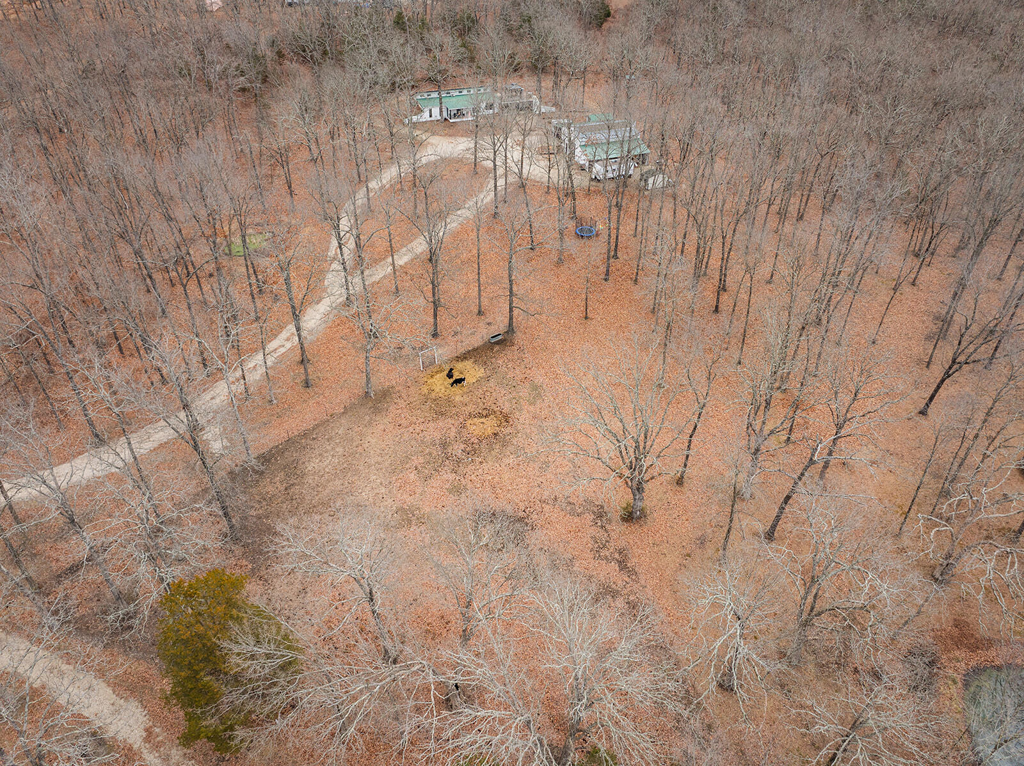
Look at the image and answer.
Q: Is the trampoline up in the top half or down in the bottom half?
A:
top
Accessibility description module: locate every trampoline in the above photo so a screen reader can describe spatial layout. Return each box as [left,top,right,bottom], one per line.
[575,217,596,240]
